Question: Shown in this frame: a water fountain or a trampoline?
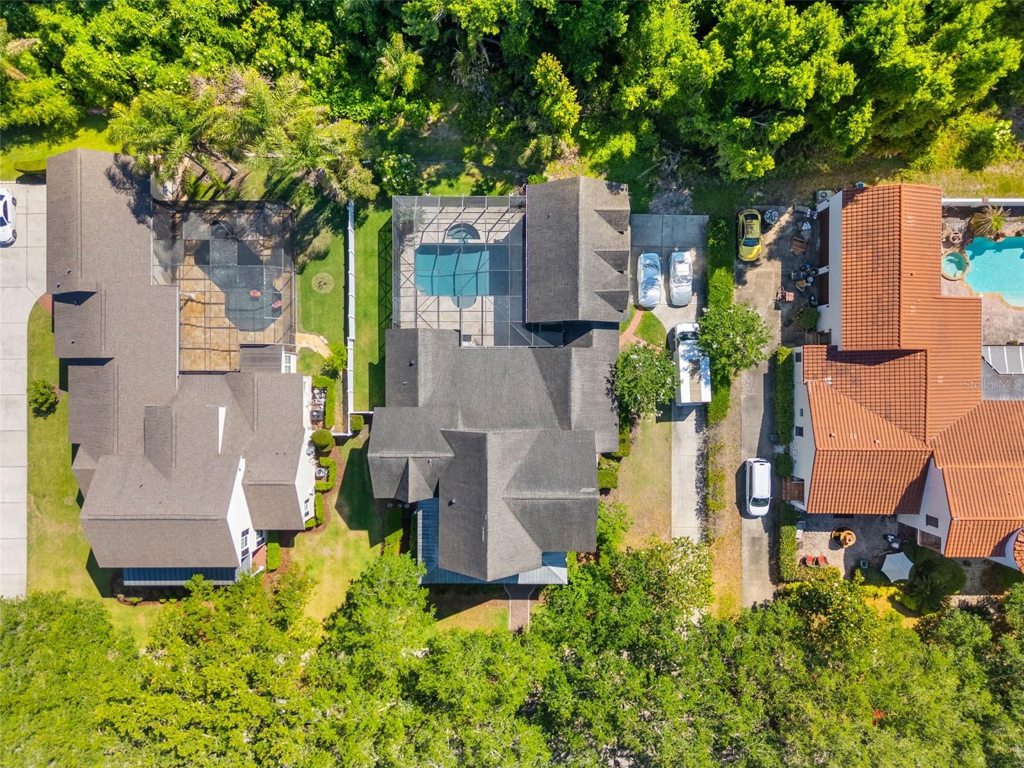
water fountain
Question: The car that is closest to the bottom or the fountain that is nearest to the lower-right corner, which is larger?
the car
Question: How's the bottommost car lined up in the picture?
vertically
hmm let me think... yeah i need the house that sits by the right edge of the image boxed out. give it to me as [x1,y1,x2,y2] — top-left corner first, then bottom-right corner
[780,182,1024,572]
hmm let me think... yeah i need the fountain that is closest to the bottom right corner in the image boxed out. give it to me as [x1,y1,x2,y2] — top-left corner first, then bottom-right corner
[827,522,855,546]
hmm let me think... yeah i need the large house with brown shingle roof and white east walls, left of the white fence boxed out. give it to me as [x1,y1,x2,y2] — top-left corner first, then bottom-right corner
[47,149,316,584]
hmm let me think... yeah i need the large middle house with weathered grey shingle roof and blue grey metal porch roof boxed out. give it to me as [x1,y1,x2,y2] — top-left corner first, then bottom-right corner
[369,177,631,584]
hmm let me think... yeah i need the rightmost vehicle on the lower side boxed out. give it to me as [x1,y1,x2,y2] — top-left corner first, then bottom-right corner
[738,458,767,513]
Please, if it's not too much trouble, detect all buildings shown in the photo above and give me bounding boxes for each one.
[780,182,1024,572]
[47,149,316,584]
[369,177,631,584]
